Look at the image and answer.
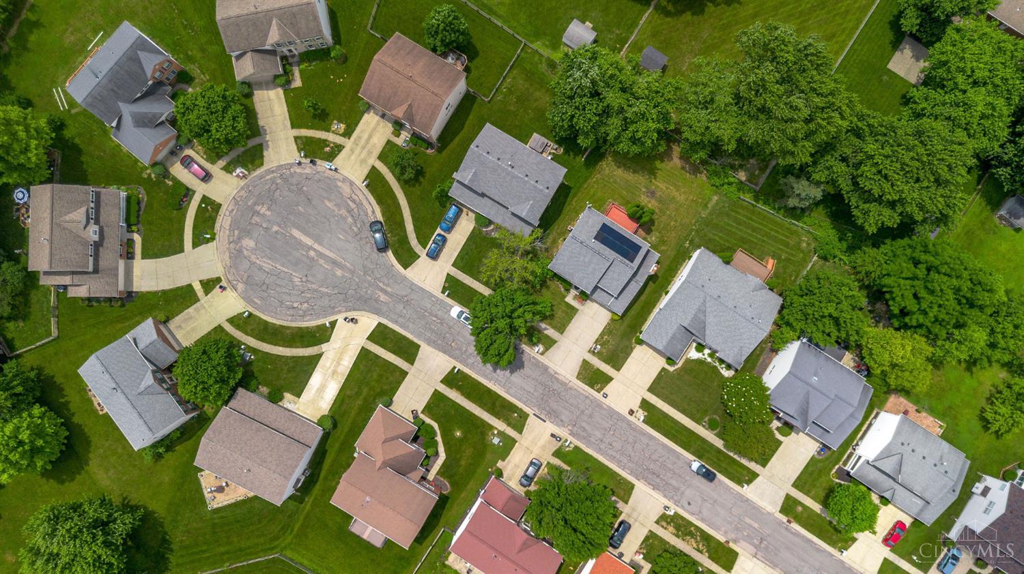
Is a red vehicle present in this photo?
Yes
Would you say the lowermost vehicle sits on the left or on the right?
right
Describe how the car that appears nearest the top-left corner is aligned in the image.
diagonally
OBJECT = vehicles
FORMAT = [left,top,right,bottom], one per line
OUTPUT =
[519,456,543,489]
[178,152,213,183]
[426,233,446,262]
[609,518,631,550]
[881,518,906,550]
[934,545,962,574]
[370,219,389,253]
[447,306,480,333]
[440,202,462,233]
[687,459,718,484]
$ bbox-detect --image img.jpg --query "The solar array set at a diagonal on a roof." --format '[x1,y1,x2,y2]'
[595,222,642,263]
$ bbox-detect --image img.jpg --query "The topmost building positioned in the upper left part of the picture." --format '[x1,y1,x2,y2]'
[217,0,331,83]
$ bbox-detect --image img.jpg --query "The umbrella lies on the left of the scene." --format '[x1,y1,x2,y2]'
[15,189,30,203]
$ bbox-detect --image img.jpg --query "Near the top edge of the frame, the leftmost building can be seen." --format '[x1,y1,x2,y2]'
[63,20,184,166]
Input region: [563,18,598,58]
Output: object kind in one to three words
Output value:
shed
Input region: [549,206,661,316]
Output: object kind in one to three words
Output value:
house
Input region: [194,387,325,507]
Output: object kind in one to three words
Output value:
house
